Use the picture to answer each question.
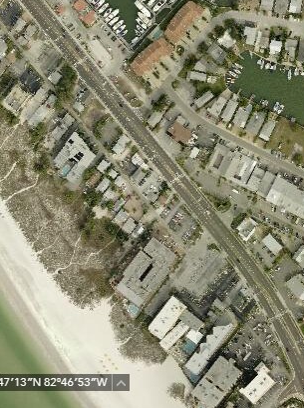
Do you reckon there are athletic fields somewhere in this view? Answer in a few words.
No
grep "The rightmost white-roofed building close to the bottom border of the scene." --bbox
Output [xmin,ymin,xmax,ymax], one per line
[240,364,275,407]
